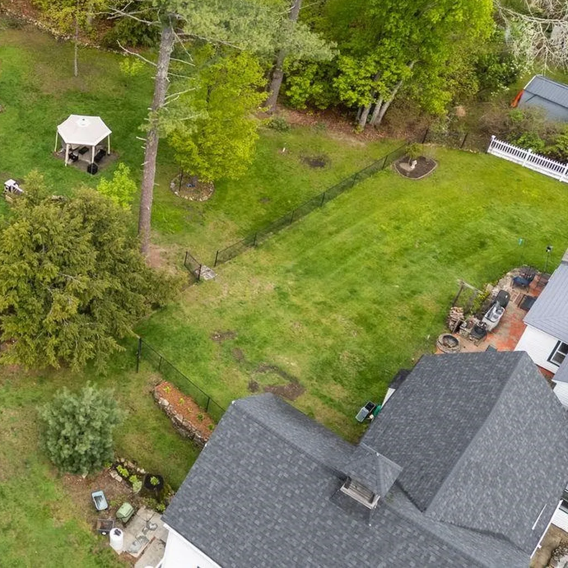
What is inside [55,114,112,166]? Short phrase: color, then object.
white gazebo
